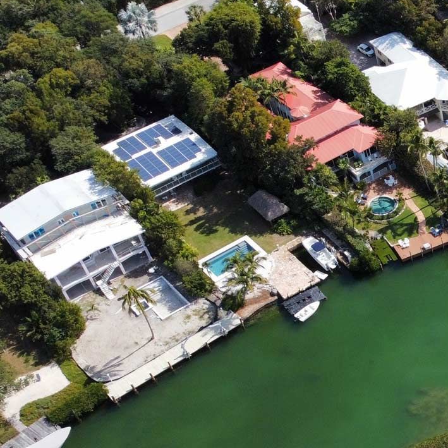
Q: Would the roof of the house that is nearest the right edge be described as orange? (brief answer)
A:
No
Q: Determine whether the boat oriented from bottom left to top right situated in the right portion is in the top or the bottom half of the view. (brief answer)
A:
bottom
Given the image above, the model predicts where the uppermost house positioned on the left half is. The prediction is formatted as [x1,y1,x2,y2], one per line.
[111,115,222,199]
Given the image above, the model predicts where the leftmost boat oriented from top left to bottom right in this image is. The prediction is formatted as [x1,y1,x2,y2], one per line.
[303,237,338,271]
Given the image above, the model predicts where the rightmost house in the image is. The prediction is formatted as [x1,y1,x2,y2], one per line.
[366,33,448,132]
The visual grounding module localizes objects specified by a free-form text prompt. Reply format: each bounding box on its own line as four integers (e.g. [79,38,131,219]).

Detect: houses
[366,33,448,132]
[0,166,154,303]
[258,57,395,179]
[111,115,222,199]
[281,14,350,62]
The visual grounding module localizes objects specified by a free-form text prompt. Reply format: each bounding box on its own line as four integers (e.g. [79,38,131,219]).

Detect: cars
[357,44,371,58]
